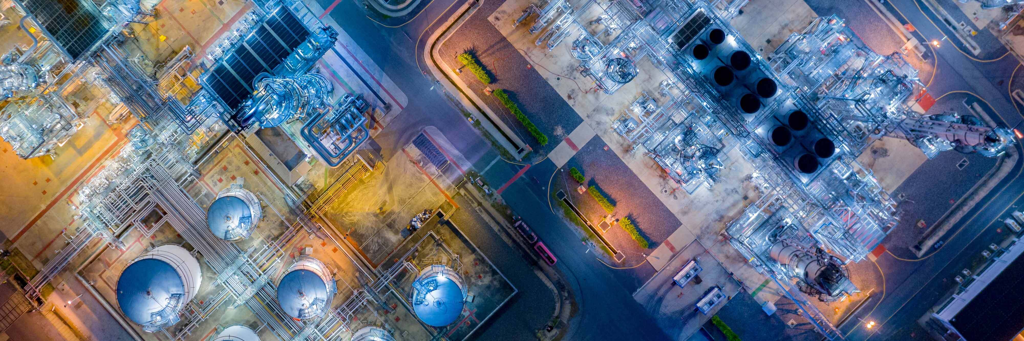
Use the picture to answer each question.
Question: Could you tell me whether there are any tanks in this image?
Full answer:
Yes, a tank appears in the view.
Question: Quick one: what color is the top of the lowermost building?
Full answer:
The roof over the lowermost building appears black.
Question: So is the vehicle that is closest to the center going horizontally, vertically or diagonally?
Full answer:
From this overhead view, the vehicle that is closest to the center appears to run diagonally.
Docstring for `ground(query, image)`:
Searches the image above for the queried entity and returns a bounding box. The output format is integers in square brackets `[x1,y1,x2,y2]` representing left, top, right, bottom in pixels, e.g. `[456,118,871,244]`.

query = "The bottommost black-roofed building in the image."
[935,232,1024,341]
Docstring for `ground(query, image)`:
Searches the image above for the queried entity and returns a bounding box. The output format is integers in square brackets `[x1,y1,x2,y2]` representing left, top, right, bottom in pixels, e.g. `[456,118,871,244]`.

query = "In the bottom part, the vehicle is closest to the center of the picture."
[515,221,538,245]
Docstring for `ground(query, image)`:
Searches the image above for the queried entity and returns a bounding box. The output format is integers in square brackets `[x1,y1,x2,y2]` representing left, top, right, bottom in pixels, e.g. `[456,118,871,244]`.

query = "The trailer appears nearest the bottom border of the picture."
[691,281,728,318]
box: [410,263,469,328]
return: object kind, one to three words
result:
storage tank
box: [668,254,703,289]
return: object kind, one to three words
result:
trailer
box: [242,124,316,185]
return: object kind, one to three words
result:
shed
